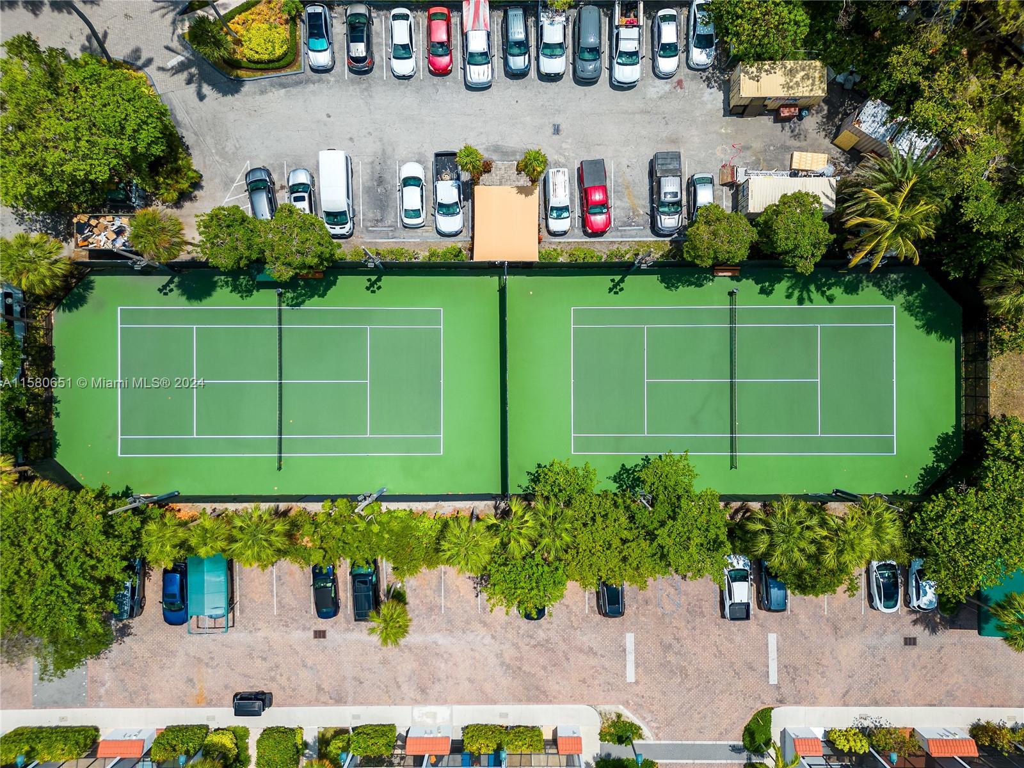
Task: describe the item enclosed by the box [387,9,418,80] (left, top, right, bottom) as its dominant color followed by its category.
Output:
white car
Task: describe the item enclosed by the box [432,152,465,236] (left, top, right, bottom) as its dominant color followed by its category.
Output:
white vehicle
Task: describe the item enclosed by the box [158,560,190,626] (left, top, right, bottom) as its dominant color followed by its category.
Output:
blue car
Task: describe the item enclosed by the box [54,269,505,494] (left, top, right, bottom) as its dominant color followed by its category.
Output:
green tennis court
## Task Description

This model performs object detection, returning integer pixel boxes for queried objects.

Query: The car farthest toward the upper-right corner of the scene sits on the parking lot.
[687,0,720,69]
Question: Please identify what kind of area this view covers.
sports ground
